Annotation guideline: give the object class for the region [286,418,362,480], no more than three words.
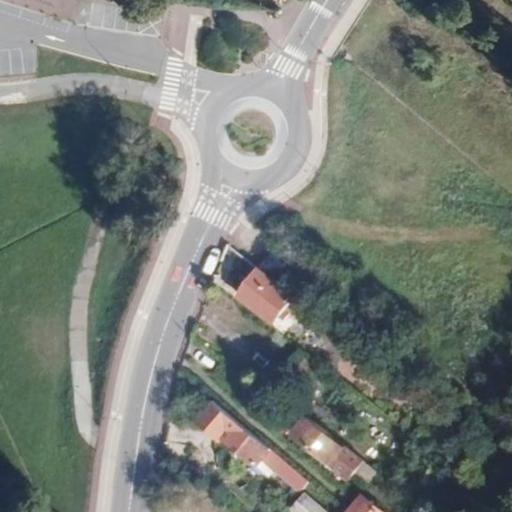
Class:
house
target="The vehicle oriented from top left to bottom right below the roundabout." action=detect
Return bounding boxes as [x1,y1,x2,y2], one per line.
[194,350,216,370]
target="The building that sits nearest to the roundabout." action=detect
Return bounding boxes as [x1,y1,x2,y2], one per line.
[235,267,288,326]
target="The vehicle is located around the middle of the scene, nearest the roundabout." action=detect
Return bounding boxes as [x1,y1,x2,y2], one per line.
[202,249,220,274]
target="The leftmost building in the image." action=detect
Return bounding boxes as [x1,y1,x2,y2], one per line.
[195,402,246,444]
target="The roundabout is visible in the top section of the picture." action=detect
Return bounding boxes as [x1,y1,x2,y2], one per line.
[202,80,306,184]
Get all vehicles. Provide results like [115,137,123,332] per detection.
[194,350,216,370]
[202,249,220,274]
